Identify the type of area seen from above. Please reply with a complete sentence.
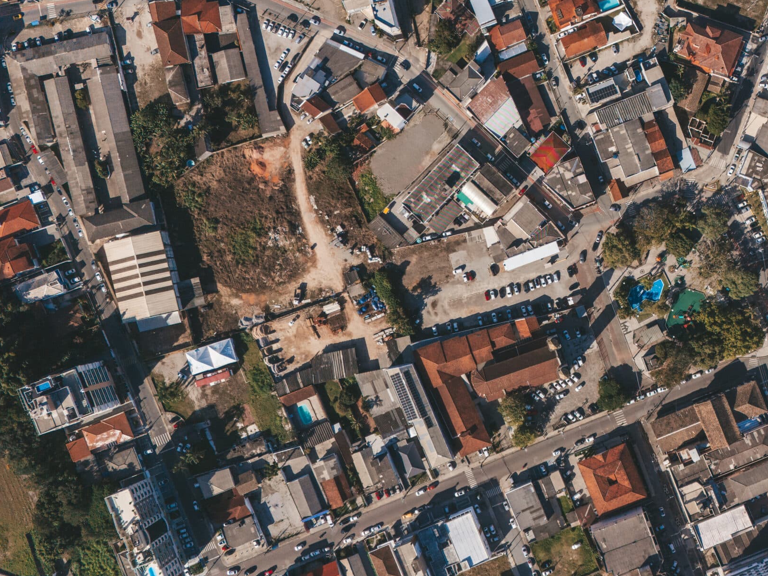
This looks like a residential area.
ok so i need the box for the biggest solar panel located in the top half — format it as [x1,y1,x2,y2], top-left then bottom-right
[588,84,618,103]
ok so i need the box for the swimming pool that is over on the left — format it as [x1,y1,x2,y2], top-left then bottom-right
[297,403,314,425]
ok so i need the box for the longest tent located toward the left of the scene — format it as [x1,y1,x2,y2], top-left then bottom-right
[185,337,241,374]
